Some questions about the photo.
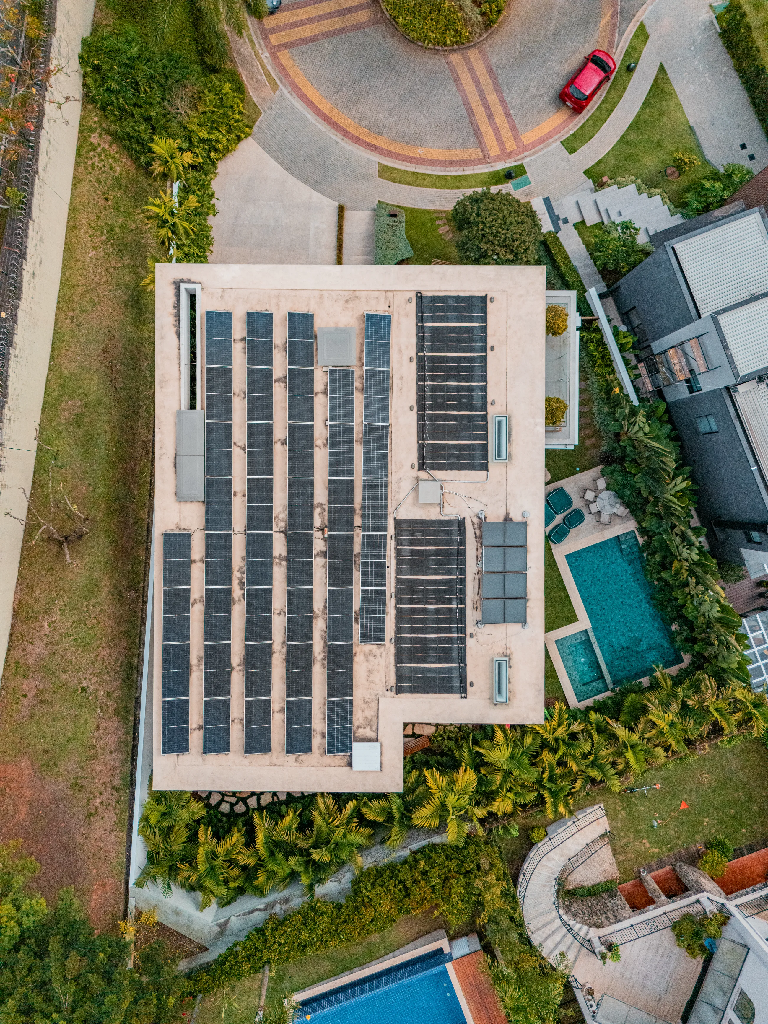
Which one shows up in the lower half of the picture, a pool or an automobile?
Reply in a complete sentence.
Looking in the lower half of the picture, you will find a pool.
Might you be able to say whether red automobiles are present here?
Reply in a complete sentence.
Yes, the photo shows a red automobile.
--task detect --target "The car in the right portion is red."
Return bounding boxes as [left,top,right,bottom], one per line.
[561,46,614,113]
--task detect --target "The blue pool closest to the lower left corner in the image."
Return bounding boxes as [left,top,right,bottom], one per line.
[284,937,474,1024]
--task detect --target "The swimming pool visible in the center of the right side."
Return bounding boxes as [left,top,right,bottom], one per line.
[545,518,686,708]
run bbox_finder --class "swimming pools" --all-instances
[284,937,474,1024]
[545,518,686,708]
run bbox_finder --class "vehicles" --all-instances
[561,46,614,113]
[257,0,286,16]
